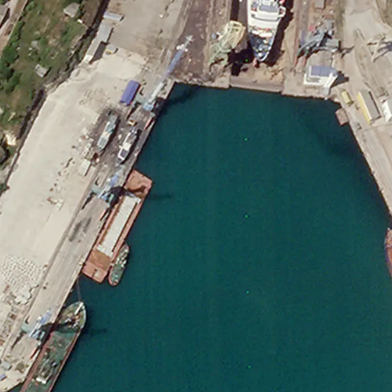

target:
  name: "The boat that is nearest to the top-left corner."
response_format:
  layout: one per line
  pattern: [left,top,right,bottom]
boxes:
[100,114,119,151]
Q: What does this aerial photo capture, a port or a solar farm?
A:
port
